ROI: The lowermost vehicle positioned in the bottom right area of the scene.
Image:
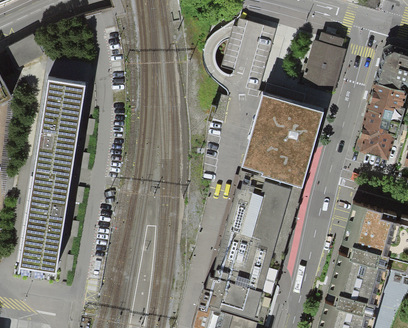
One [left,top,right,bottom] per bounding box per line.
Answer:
[294,264,306,293]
